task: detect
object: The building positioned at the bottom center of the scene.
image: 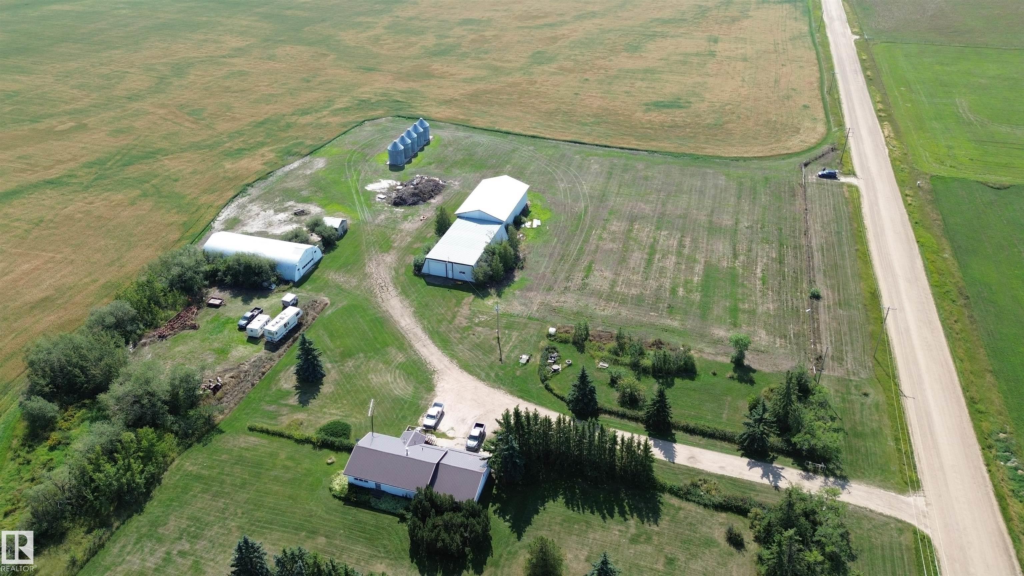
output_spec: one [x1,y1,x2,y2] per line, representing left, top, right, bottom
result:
[343,428,493,505]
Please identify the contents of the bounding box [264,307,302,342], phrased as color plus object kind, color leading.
white trailer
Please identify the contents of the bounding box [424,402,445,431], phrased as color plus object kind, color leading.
white truck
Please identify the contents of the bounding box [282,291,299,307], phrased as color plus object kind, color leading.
white camper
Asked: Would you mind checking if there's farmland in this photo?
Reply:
Yes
